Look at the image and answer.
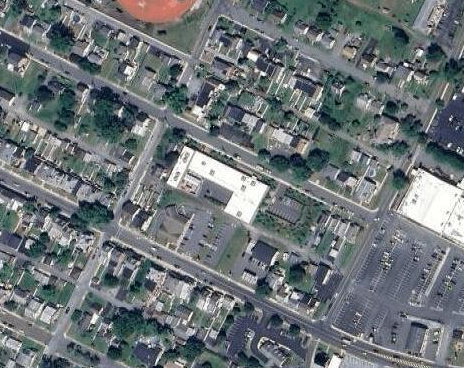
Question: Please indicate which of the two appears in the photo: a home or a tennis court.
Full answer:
I can see a home in this picture.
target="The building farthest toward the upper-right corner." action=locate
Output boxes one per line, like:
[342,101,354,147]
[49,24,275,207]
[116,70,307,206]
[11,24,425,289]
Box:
[412,0,445,34]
